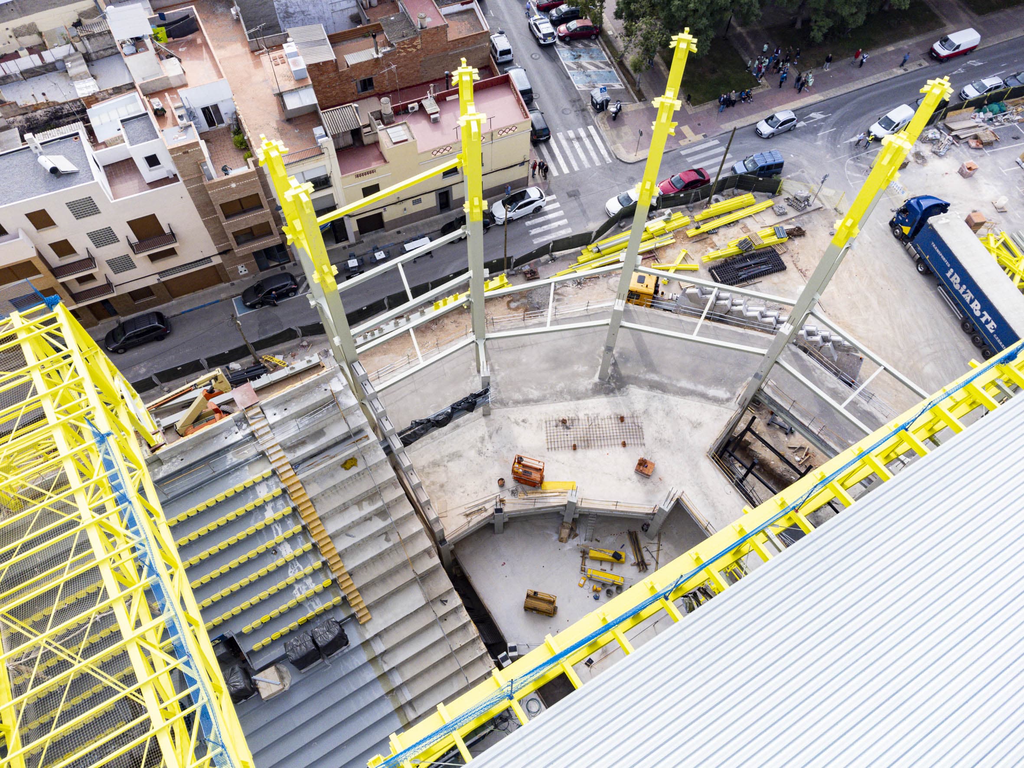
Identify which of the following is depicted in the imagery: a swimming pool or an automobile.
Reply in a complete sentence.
Of the two, only an automobile appears.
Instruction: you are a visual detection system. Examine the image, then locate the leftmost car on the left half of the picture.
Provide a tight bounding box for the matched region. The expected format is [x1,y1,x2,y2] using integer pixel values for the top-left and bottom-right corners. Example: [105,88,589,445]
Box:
[98,304,177,355]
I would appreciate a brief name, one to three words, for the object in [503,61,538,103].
van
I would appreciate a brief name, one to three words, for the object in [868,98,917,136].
van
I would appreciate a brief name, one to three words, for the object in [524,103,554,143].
car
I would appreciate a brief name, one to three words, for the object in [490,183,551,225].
car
